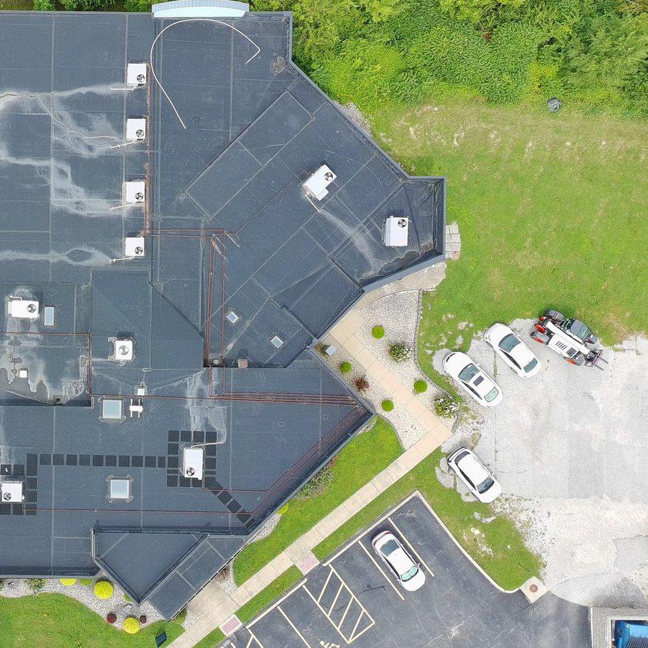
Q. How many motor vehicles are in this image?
5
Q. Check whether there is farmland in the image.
No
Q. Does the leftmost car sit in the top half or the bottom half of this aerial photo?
bottom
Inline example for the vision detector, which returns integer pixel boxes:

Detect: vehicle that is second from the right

[477,319,545,382]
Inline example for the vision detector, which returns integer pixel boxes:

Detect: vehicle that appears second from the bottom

[443,444,503,505]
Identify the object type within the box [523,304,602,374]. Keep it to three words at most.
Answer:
work vehicle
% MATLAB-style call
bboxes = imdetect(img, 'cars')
[368,526,427,593]
[439,347,506,411]
[443,444,503,505]
[477,319,545,382]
